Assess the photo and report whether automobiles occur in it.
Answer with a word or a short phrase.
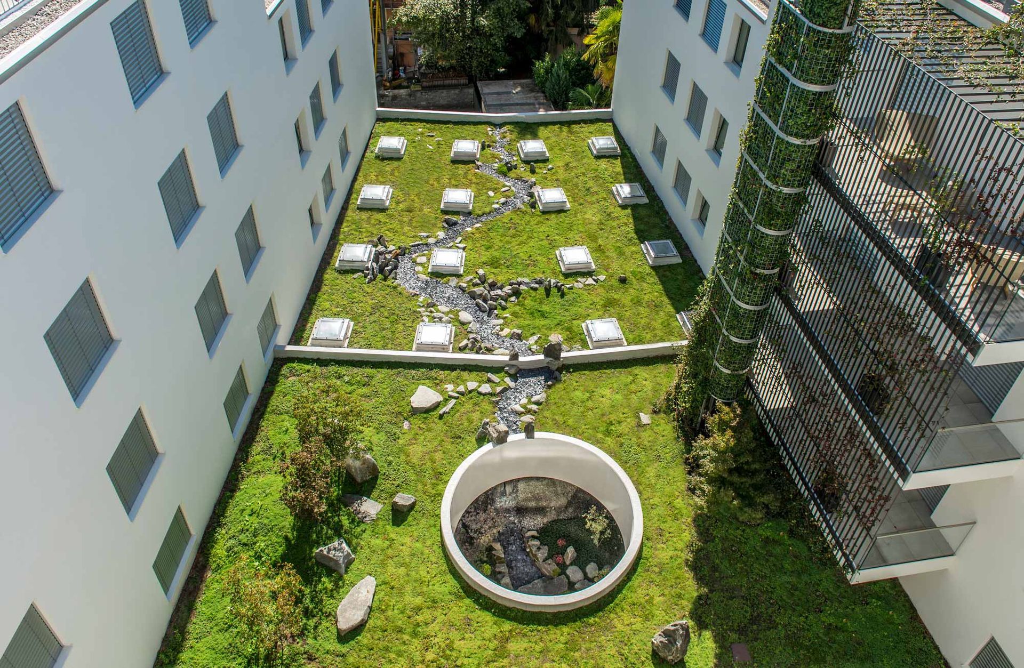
No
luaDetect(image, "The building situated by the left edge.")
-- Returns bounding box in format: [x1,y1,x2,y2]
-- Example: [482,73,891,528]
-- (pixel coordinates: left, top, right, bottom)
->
[0,0,376,668]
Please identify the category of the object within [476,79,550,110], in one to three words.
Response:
building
